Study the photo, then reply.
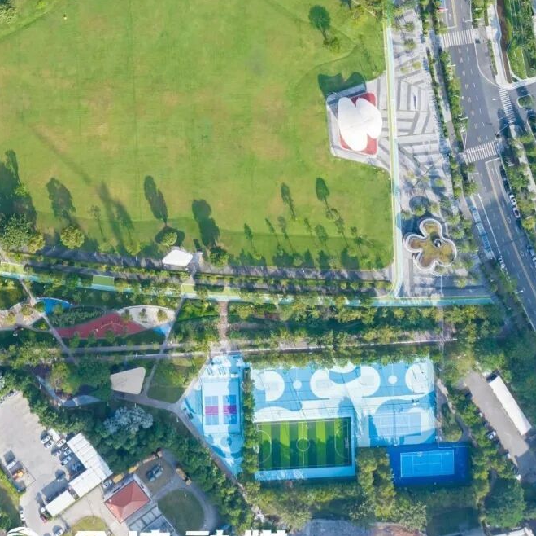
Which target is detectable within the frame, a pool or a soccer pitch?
soccer pitch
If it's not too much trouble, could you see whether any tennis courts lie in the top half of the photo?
No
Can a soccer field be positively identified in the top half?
No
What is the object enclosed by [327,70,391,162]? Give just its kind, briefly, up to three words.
building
